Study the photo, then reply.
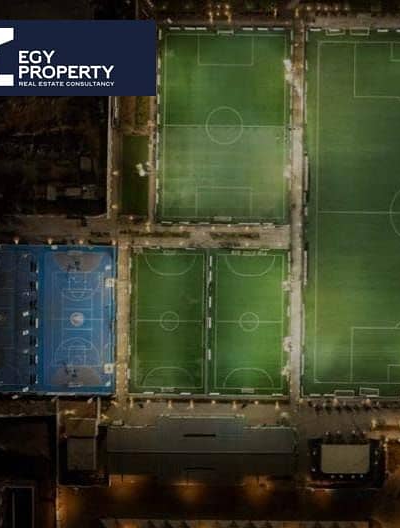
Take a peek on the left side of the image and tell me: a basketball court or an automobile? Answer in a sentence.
Visible on the left side of the image is a basketball court.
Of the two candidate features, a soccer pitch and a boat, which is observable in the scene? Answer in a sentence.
This aerial view contains a soccer pitch.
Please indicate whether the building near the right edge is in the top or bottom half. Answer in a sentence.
It is in the bottom half that the building near the right edge appears.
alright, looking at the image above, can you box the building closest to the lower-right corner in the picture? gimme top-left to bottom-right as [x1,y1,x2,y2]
[311,438,384,486]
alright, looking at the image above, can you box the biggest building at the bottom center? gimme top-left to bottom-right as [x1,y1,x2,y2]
[106,413,296,478]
